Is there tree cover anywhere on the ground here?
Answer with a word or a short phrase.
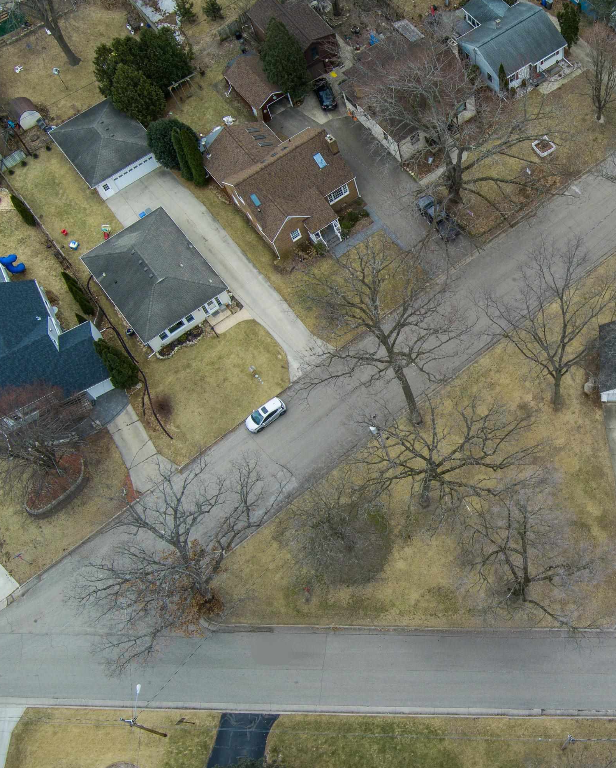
Yes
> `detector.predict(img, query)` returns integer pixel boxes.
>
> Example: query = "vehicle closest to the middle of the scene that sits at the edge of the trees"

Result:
[243,395,290,434]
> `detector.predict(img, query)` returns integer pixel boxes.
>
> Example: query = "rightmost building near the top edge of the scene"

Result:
[432,0,575,92]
